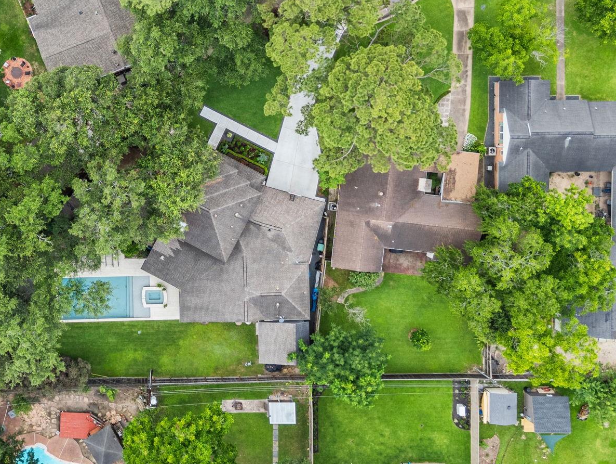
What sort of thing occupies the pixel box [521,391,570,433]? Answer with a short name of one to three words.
shed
